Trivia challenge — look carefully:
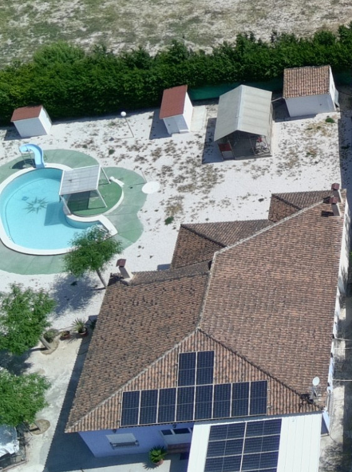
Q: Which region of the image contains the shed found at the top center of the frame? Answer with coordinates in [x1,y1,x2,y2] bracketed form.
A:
[161,83,192,136]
